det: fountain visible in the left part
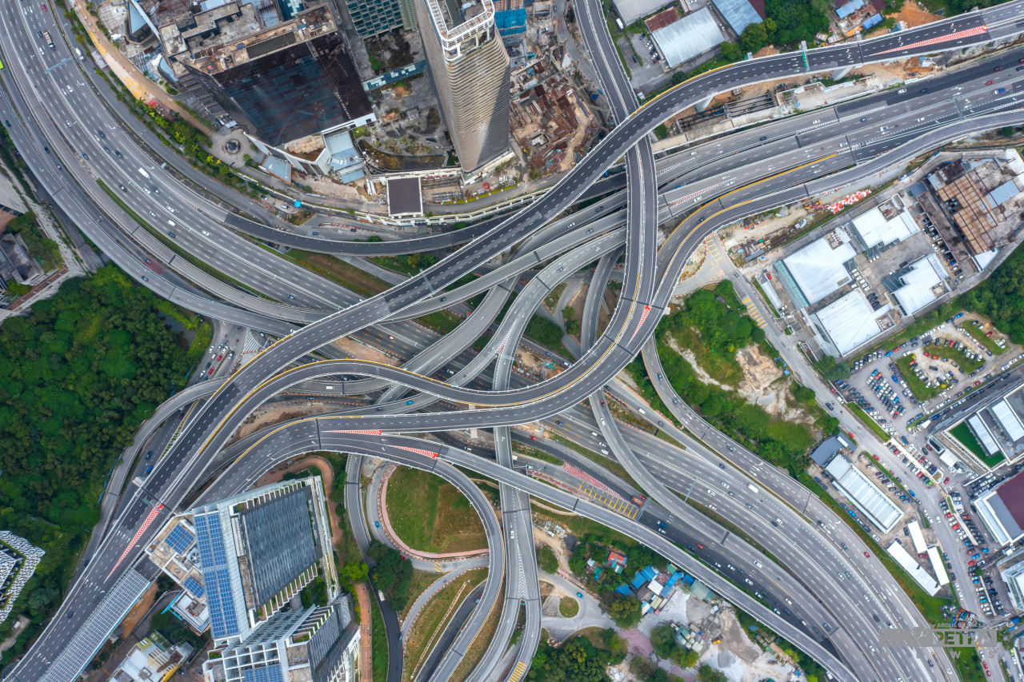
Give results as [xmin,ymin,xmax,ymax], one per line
[213,128,255,166]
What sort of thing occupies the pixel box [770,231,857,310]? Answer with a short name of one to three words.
building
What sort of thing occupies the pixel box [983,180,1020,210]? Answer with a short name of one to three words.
shed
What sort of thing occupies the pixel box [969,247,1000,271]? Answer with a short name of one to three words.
shed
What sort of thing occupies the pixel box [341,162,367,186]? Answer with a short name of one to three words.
building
